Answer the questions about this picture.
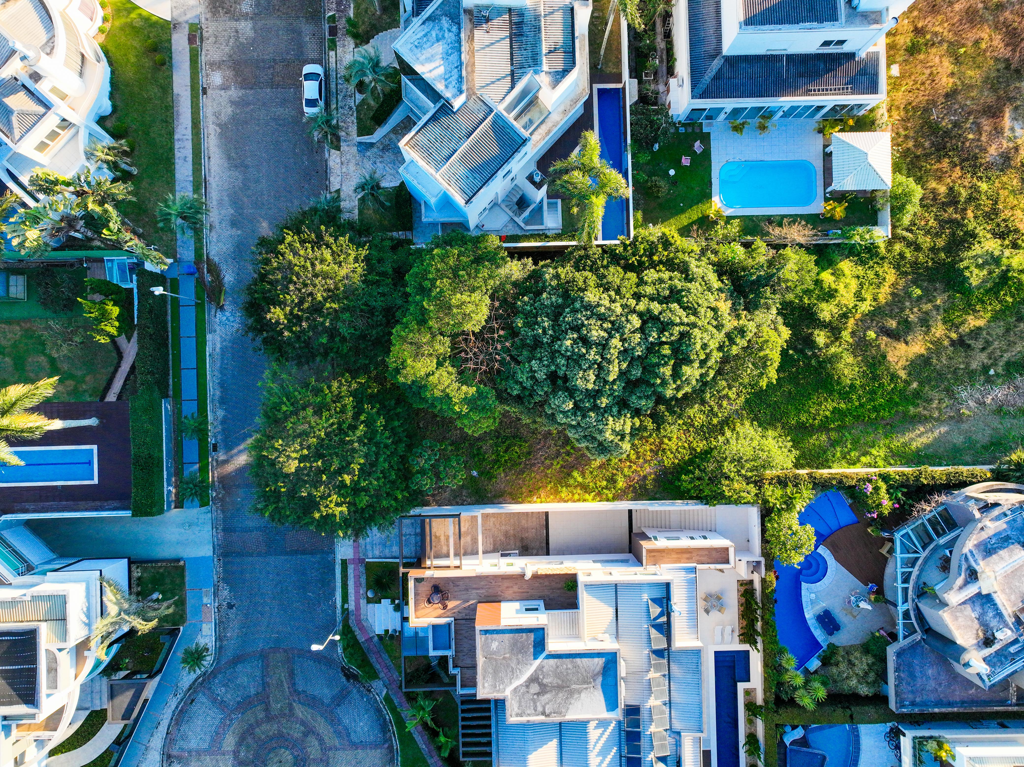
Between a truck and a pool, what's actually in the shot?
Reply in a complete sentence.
It is a pool that can be seen here.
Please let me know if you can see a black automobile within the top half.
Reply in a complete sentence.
No, I can find no black automobile within the top half.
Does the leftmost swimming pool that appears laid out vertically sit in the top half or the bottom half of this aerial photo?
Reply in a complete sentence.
Seen from above, the leftmost swimming pool that appears laid out vertically lies in the top half of the view.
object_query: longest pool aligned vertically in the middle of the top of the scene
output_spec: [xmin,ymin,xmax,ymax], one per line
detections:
[597,88,626,241]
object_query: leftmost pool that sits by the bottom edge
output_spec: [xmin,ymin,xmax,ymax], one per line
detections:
[710,646,751,767]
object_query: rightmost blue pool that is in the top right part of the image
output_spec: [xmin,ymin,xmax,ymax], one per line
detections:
[718,158,818,208]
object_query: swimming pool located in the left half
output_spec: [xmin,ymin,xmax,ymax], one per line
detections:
[0,445,98,487]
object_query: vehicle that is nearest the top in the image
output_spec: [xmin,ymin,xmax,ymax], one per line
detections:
[301,65,326,117]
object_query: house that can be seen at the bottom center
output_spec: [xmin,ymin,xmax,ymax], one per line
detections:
[404,510,765,767]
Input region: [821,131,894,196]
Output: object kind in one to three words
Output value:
building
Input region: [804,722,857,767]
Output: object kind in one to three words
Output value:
swimming pool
